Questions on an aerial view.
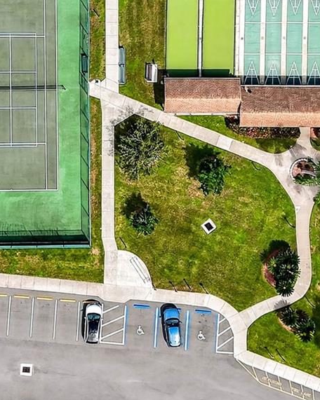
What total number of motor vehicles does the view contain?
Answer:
two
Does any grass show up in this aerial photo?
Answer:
Yes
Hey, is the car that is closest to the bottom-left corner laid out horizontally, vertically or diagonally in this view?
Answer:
vertically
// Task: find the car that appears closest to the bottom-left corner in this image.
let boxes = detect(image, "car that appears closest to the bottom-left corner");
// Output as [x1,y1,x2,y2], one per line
[84,302,104,344]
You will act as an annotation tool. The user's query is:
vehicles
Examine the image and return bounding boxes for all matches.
[160,306,180,346]
[84,302,104,344]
